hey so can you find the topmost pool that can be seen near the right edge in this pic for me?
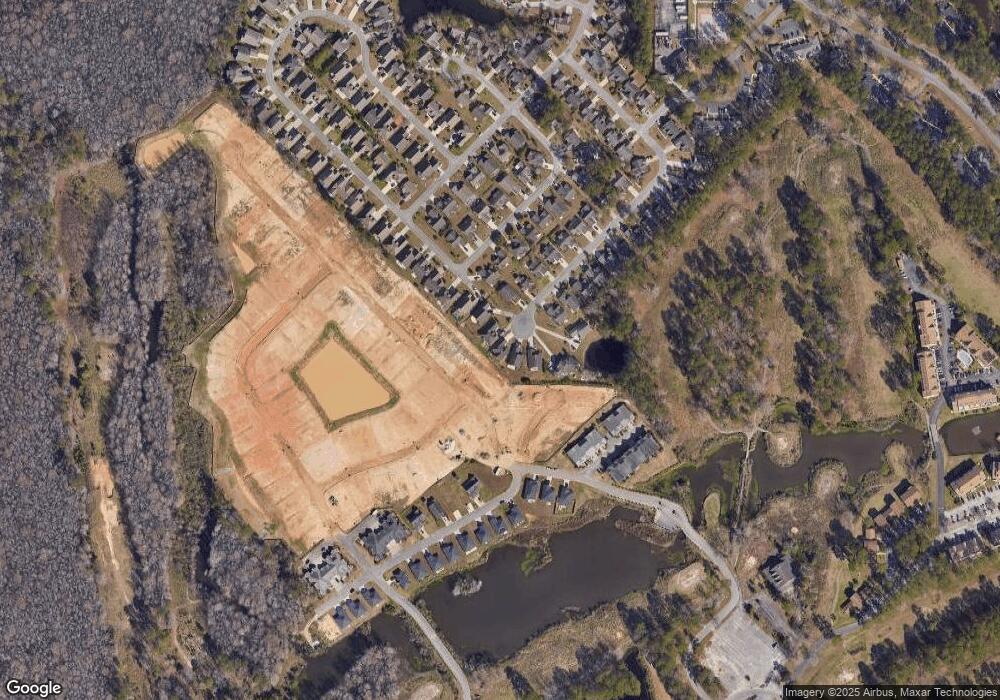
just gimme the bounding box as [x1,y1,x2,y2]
[956,348,975,370]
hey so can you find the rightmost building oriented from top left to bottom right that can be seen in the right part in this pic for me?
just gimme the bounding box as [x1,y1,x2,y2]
[957,326,996,367]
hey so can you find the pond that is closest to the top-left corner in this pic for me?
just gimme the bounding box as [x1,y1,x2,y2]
[395,0,506,34]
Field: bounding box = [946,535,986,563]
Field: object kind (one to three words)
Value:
building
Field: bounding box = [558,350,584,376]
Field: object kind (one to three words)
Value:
house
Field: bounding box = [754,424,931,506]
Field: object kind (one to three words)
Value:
pond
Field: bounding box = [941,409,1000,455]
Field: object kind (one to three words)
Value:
pond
